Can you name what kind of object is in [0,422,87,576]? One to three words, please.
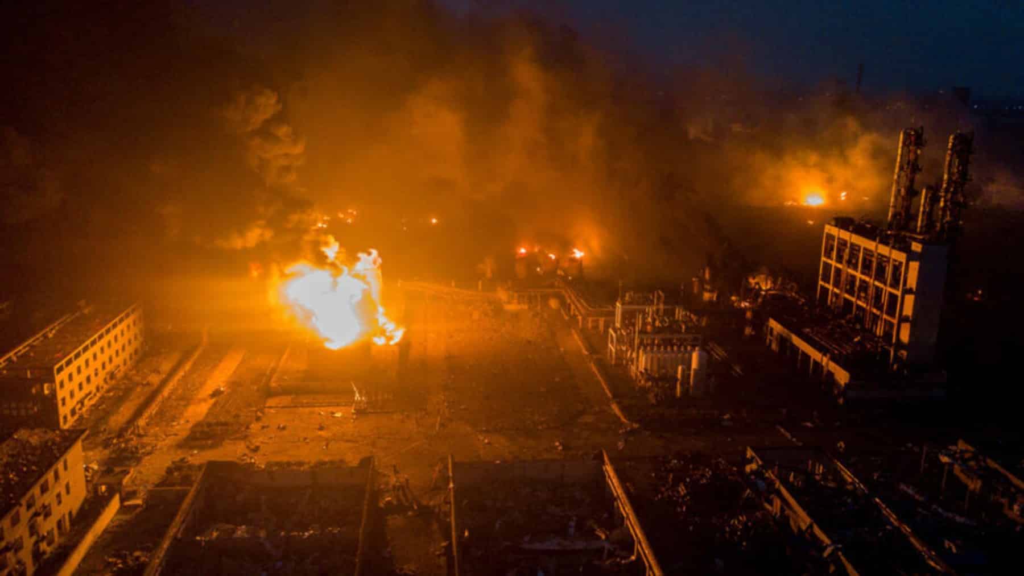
building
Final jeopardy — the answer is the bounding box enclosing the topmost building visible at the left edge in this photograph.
[0,304,142,428]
